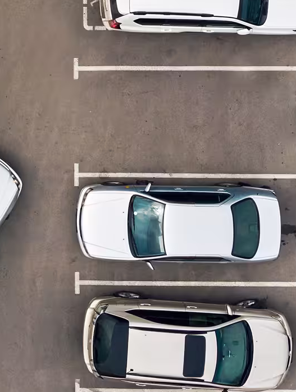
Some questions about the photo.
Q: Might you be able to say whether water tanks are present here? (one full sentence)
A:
No, there is no water tank in the image.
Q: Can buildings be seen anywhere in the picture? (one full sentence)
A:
No, no building is visible in the view.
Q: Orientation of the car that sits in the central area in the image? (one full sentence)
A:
The car that sits in the central area runs from left to right in the image.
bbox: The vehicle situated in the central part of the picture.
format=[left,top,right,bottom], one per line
[77,178,280,274]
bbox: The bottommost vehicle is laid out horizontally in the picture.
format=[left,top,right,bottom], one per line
[84,291,292,392]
